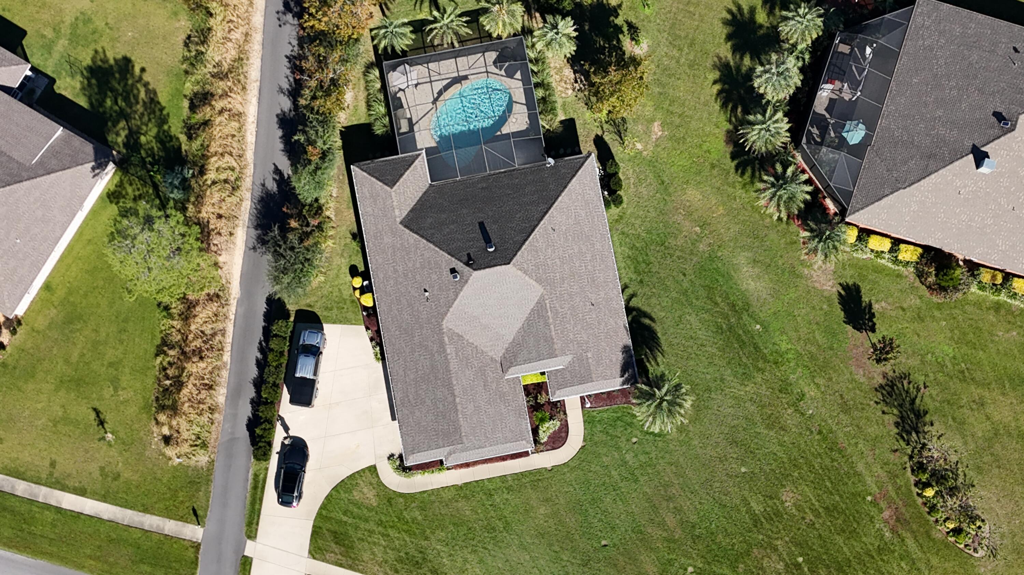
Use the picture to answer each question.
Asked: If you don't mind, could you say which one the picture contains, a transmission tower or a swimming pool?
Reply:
swimming pool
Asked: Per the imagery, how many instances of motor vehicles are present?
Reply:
2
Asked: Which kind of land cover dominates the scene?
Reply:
grass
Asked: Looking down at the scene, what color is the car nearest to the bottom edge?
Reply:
black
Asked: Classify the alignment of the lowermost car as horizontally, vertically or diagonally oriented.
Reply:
vertically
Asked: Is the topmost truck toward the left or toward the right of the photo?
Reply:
left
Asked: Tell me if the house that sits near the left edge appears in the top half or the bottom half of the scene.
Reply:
top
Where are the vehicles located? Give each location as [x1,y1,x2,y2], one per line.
[277,444,310,509]
[289,325,329,410]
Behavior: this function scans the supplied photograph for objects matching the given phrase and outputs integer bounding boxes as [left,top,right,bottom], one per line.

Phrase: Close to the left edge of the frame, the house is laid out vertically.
[0,29,127,324]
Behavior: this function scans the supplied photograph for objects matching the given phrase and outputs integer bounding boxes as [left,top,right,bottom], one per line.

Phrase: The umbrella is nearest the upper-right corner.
[840,116,869,146]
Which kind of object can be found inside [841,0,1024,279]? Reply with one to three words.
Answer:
house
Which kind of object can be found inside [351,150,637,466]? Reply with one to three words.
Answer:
house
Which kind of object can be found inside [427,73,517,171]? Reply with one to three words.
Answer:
swimming pool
